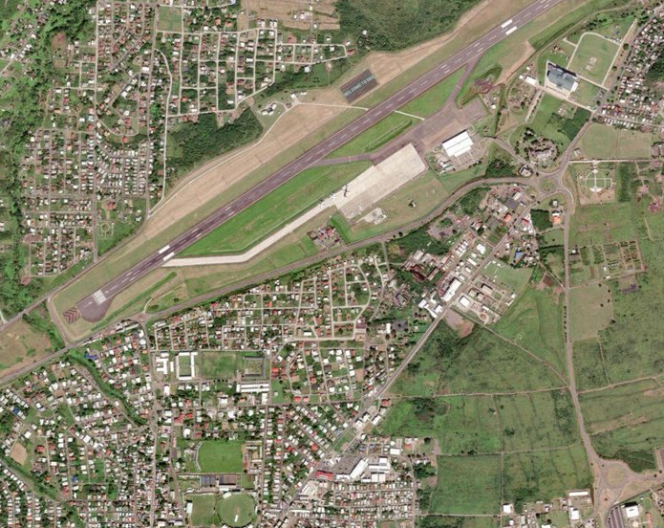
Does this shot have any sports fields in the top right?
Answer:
Yes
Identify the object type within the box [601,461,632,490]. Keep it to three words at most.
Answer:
roundabout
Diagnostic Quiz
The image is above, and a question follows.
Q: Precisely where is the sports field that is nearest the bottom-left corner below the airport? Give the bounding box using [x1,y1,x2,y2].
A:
[189,493,214,526]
